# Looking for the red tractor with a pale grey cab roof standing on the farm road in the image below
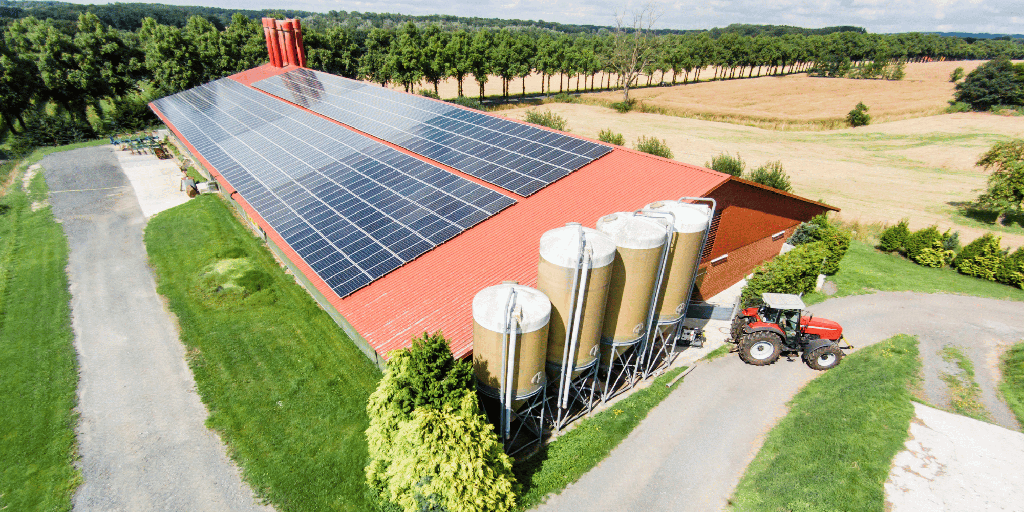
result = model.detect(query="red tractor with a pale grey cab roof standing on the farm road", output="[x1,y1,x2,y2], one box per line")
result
[720,294,857,372]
